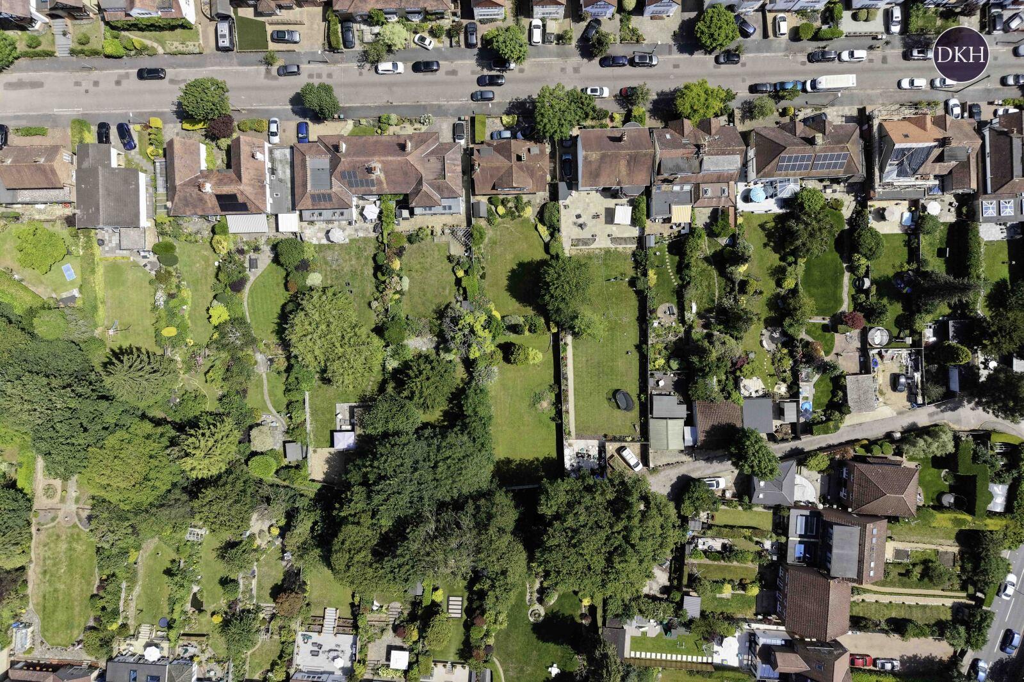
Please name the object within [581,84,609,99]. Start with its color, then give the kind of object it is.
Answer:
white car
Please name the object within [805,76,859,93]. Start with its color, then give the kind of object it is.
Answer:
white vehicle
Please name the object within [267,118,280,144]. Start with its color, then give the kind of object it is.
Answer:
white vehicle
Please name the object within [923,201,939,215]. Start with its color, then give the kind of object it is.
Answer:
white umbrella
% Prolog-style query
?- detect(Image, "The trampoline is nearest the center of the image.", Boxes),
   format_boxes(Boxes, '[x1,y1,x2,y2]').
[615,391,632,411]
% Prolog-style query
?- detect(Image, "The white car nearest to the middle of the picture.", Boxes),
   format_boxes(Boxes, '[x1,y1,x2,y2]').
[619,445,642,473]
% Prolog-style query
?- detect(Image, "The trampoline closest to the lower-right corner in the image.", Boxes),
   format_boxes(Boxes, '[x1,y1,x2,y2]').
[940,491,963,508]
